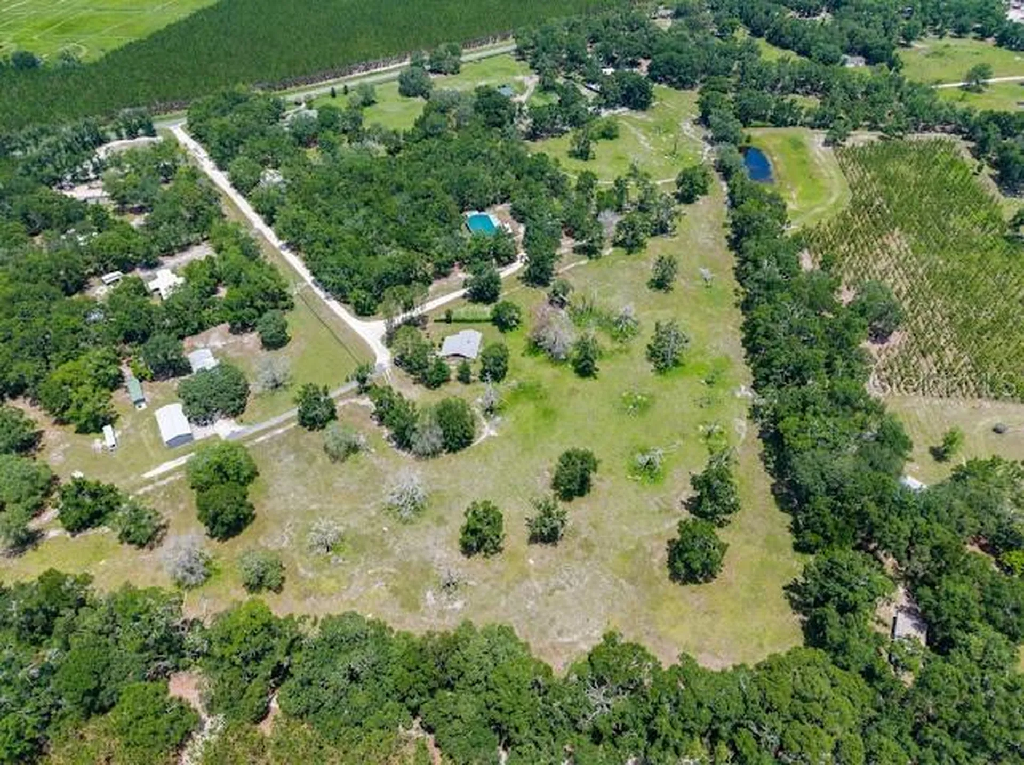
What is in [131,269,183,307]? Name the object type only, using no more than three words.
house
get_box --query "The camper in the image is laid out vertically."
[105,425,118,456]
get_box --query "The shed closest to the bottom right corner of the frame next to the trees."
[888,614,927,652]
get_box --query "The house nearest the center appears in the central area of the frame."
[443,331,483,367]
